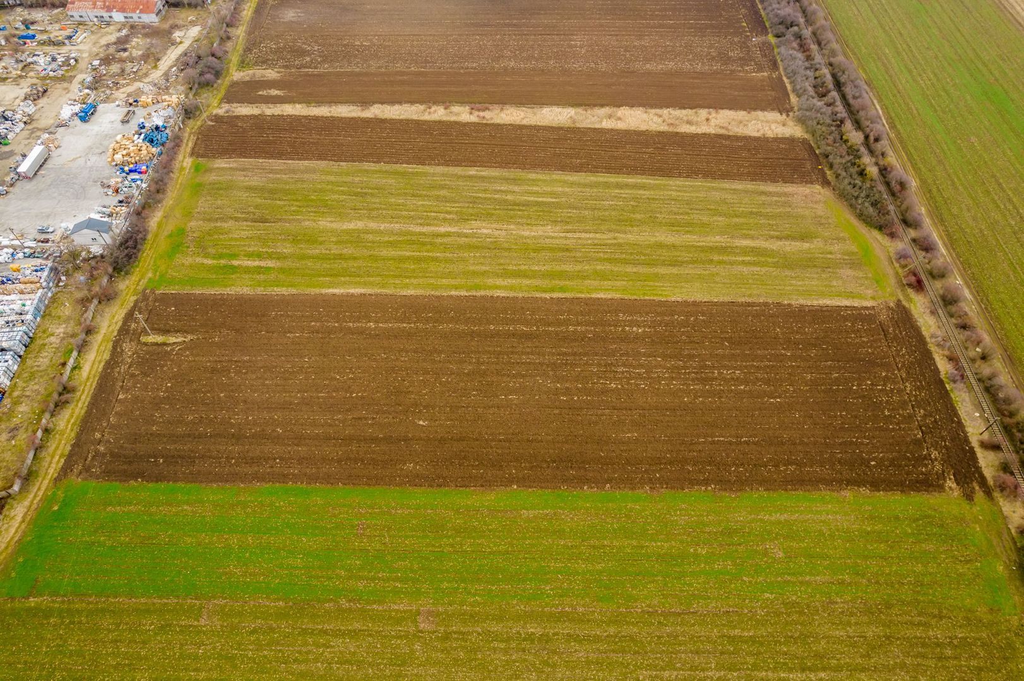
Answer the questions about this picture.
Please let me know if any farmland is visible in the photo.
Yes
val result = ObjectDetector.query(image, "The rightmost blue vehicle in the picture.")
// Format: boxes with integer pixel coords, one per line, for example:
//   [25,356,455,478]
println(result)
[73,100,100,122]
